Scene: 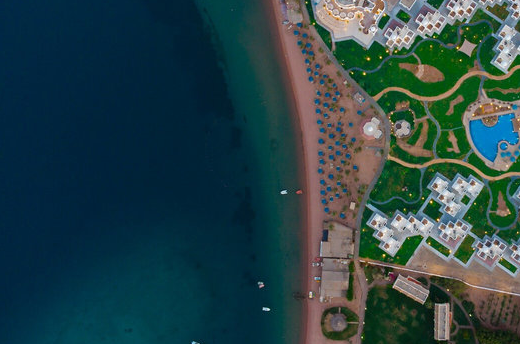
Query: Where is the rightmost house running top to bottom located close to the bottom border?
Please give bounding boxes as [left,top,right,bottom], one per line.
[434,302,451,340]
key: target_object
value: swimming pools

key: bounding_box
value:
[468,112,519,163]
[497,140,509,152]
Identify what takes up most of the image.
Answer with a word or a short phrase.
water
